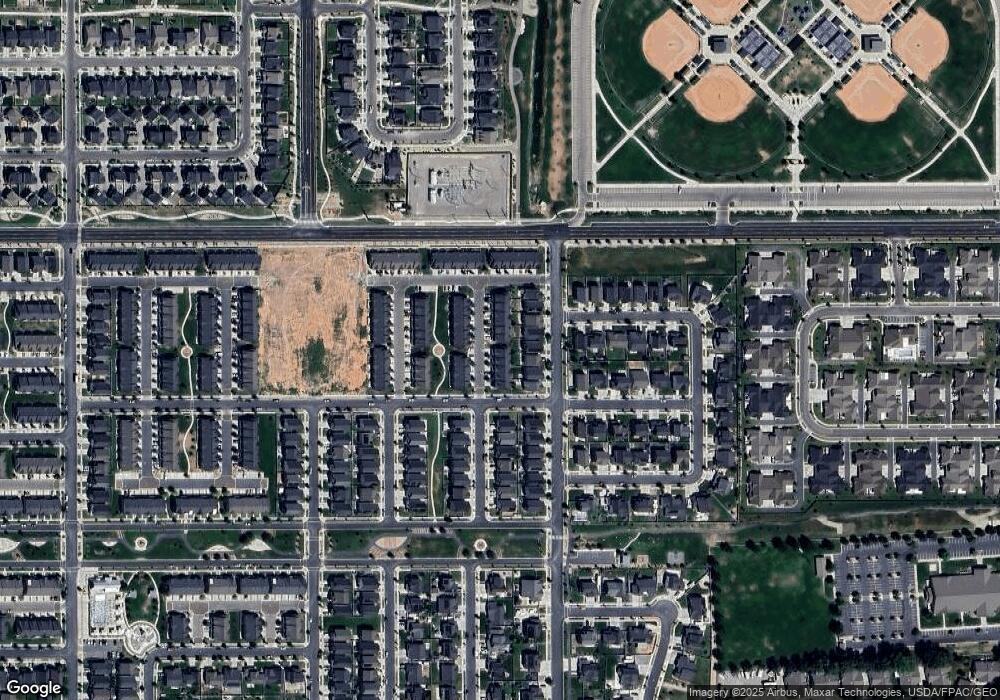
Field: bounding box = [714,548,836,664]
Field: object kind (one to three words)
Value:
sports field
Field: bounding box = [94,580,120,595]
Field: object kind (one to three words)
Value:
building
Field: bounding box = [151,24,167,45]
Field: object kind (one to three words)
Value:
house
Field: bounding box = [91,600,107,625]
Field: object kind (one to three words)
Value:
swimming pool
